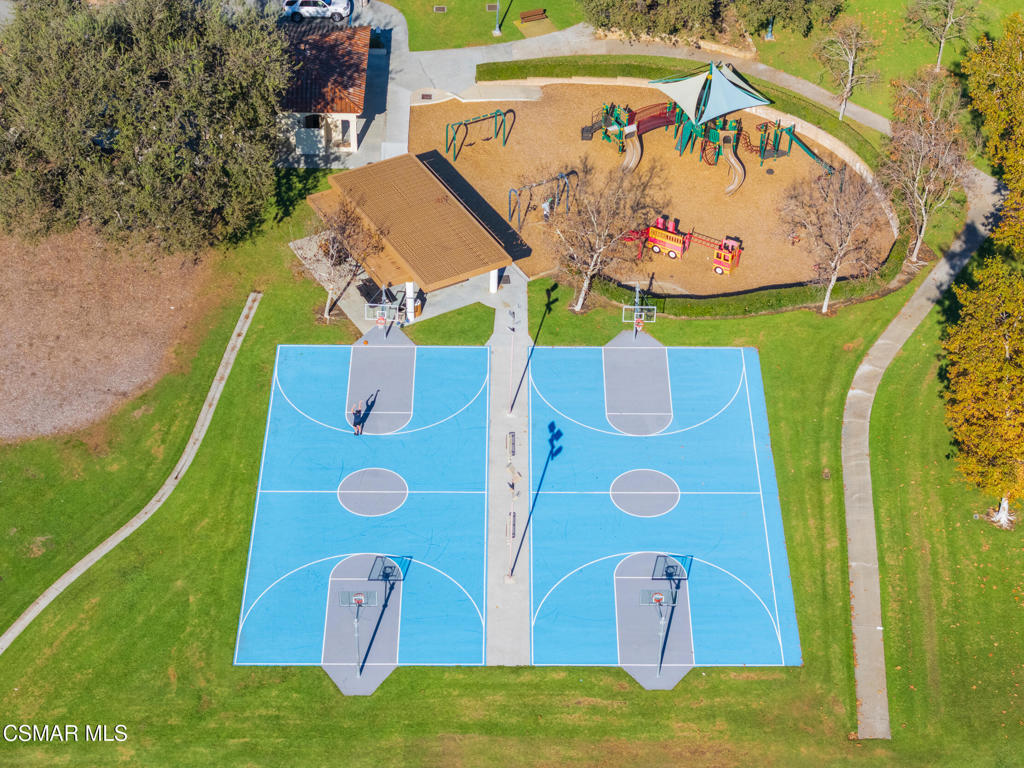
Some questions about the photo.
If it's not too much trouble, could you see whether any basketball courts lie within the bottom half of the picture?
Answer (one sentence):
Yes, within the bottom half of the picture there is a basketball court.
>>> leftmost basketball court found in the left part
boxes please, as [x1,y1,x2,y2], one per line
[233,325,491,696]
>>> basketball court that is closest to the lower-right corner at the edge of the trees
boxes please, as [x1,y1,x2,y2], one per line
[528,326,802,691]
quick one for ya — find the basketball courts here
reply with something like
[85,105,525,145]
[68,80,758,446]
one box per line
[233,325,491,696]
[528,326,802,691]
